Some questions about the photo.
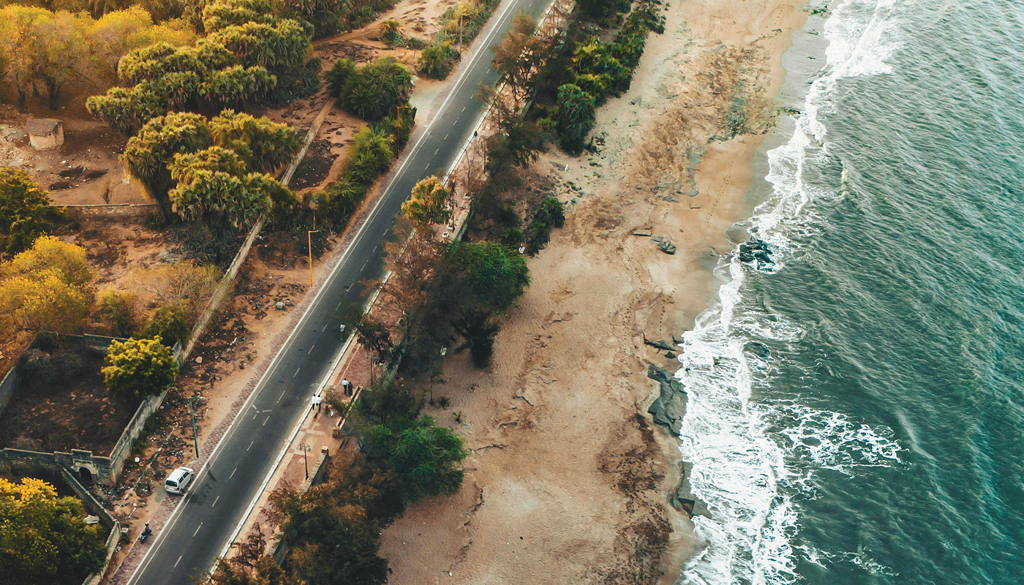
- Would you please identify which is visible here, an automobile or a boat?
automobile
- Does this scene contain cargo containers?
No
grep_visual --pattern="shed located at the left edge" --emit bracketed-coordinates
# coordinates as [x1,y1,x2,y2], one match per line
[30,121,69,151]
